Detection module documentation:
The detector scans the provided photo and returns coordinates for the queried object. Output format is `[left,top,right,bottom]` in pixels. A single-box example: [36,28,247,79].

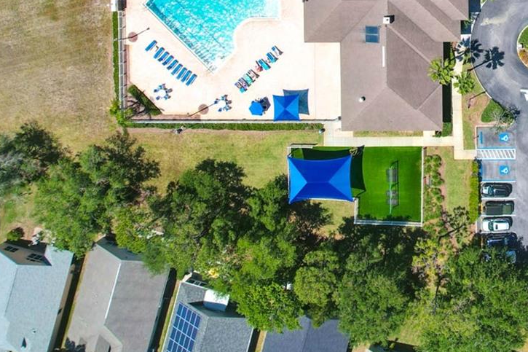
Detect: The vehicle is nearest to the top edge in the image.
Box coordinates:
[482,183,511,197]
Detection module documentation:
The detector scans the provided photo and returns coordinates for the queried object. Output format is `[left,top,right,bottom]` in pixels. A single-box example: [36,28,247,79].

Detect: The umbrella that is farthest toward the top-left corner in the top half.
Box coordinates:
[249,100,264,114]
